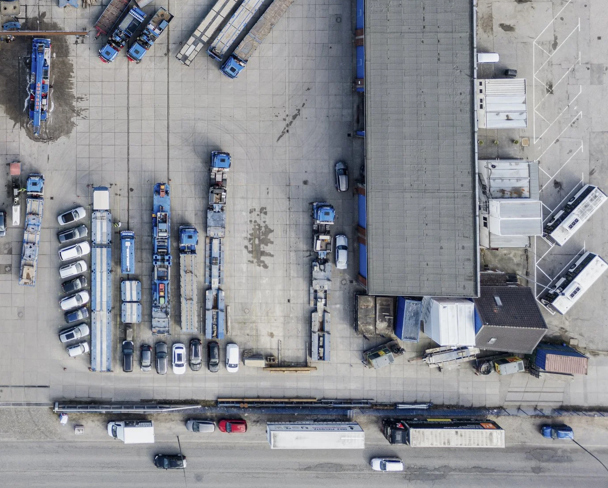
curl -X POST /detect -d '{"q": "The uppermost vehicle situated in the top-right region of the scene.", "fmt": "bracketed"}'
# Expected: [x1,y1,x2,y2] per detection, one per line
[479,51,501,65]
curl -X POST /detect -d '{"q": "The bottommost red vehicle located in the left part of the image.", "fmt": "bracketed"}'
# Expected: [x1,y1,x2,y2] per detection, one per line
[218,418,247,433]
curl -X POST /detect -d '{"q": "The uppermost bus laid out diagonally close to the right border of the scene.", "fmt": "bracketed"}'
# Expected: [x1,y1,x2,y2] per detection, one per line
[541,183,607,249]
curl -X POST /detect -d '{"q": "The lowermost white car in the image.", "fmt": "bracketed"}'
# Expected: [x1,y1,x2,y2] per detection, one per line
[369,456,403,472]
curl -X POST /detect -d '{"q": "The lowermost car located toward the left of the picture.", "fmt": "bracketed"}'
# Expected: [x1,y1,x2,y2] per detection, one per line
[154,454,186,469]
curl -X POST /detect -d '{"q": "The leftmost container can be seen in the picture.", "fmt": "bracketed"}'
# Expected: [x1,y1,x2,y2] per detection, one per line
[395,296,422,341]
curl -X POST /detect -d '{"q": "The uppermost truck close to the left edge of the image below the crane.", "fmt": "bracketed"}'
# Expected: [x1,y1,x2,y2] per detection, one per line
[25,170,46,207]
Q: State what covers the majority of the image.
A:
paved ground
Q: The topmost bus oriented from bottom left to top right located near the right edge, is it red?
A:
No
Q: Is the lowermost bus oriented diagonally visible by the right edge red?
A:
No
